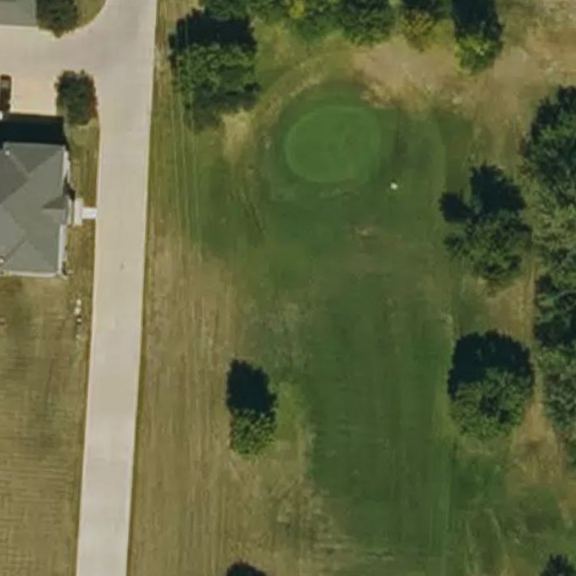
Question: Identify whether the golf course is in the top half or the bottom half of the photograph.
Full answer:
The bottom half of the photo is where the golf course is.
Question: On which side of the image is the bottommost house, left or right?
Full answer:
You can find the bottommost house on the left side of the picture.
